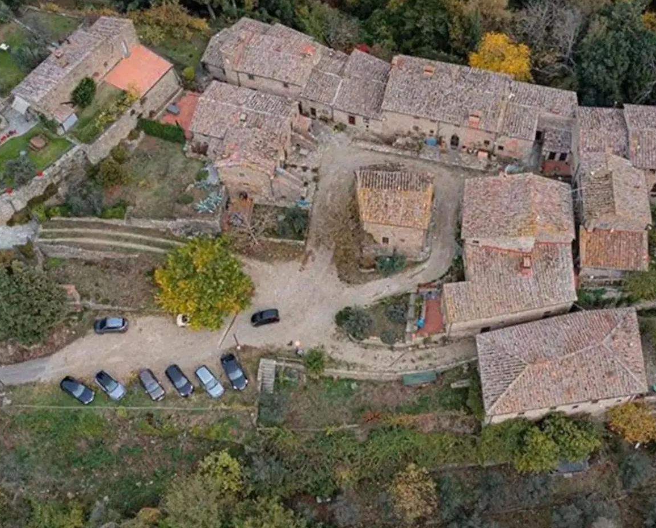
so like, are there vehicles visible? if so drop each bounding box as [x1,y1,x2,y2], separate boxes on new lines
[165,365,193,397]
[59,375,95,404]
[137,368,165,400]
[194,366,224,398]
[95,370,125,400]
[222,353,248,390]
[93,317,129,334]
[251,309,280,327]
